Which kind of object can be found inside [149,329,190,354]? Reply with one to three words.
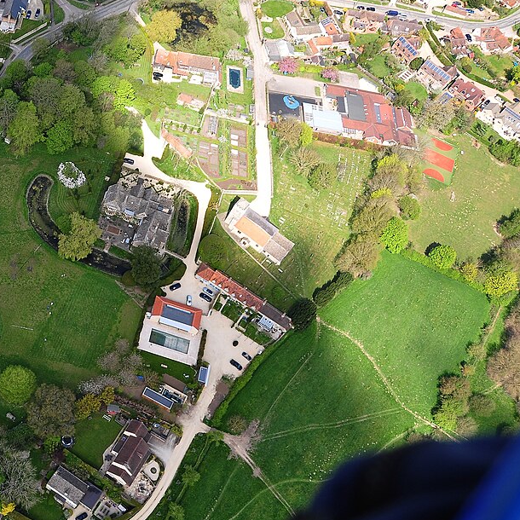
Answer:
swimming pool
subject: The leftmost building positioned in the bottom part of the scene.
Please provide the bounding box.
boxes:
[48,462,104,515]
